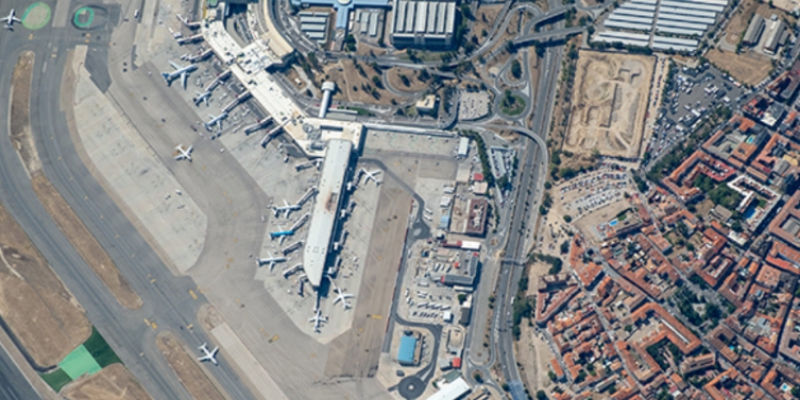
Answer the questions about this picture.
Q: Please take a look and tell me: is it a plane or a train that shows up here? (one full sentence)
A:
This aerial view contains a plane.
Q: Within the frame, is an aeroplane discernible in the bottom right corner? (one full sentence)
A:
No, there's no aeroplane to be seen in the bottom right corner.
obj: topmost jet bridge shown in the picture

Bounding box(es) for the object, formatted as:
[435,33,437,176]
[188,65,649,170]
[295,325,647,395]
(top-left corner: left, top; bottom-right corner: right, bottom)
[176,13,203,27]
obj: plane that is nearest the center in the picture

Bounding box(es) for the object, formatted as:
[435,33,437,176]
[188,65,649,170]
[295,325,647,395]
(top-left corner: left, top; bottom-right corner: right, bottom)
[362,167,383,186]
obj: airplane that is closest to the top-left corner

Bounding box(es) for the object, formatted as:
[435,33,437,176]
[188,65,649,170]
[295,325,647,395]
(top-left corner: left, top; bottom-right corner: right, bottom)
[0,9,22,30]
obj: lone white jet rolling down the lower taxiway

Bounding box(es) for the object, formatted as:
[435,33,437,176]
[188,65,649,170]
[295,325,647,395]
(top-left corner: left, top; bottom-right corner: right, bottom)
[198,343,219,364]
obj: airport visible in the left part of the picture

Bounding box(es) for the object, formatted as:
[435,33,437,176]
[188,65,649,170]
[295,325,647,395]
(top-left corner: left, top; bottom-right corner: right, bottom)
[0,0,470,400]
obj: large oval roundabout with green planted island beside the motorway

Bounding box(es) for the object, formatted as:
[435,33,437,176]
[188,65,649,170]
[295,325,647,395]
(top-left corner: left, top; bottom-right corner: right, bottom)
[495,90,530,120]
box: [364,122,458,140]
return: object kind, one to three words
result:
building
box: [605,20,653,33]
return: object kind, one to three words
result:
building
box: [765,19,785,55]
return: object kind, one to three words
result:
shed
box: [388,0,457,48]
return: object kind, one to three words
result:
hangar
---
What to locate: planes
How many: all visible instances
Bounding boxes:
[0,9,22,30]
[205,113,227,129]
[362,167,383,186]
[334,288,356,310]
[198,343,219,364]
[176,145,191,161]
[162,62,198,84]
[256,250,289,271]
[272,198,301,217]
[194,91,212,105]
[270,224,295,244]
[307,309,328,331]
